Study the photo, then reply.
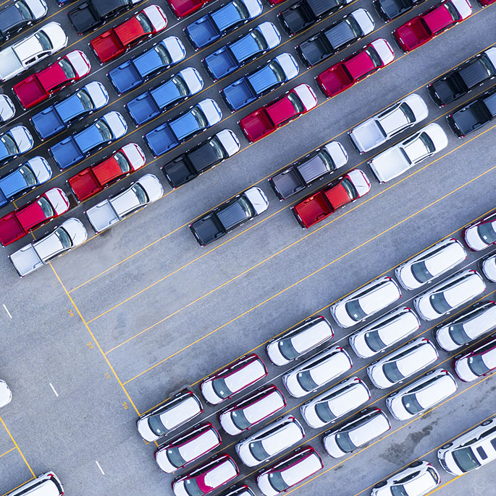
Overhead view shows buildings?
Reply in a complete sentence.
No, no building can be seen from above.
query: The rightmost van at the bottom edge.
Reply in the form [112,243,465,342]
[438,416,496,473]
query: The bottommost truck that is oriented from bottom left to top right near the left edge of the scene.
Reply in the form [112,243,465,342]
[8,222,84,278]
